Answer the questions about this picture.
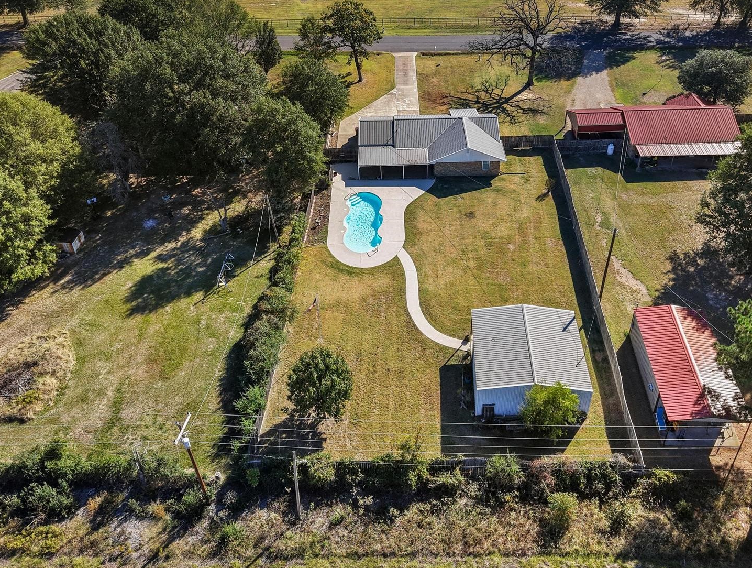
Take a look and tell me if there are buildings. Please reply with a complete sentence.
Yes, there's a building here.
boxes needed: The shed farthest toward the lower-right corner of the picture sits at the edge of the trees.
[628,304,752,447]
